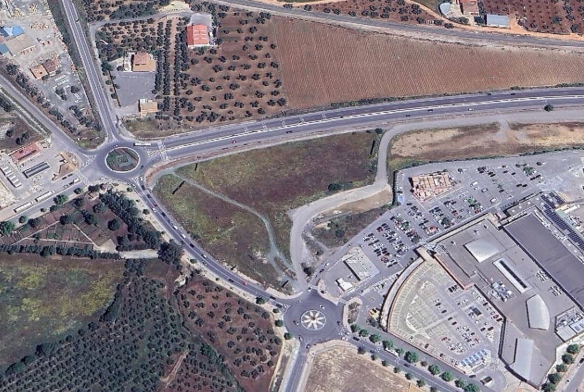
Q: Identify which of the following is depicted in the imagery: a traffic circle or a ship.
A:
traffic circle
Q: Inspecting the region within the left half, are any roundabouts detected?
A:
Yes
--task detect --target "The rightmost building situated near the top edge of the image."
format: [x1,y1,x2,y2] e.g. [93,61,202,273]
[485,15,509,30]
